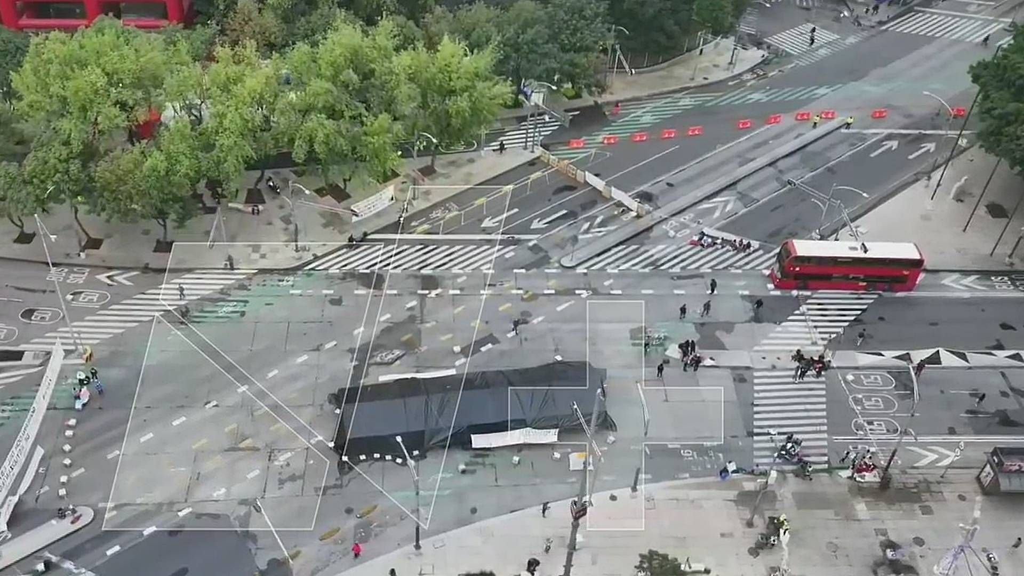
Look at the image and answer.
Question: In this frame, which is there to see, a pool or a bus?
bus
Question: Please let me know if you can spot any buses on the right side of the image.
Yes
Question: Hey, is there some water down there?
No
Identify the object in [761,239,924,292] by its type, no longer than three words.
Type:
bus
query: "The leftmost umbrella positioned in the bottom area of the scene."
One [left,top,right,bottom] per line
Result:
[65,365,86,379]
